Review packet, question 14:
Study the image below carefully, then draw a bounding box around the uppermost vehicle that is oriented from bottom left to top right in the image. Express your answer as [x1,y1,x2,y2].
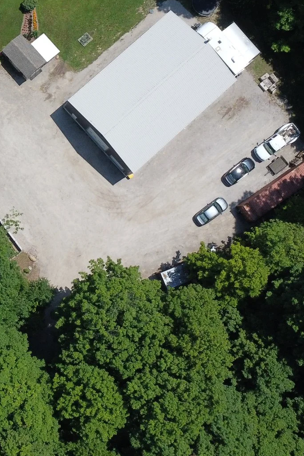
[250,122,302,165]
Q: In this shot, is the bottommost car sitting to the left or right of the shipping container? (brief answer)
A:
left of it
